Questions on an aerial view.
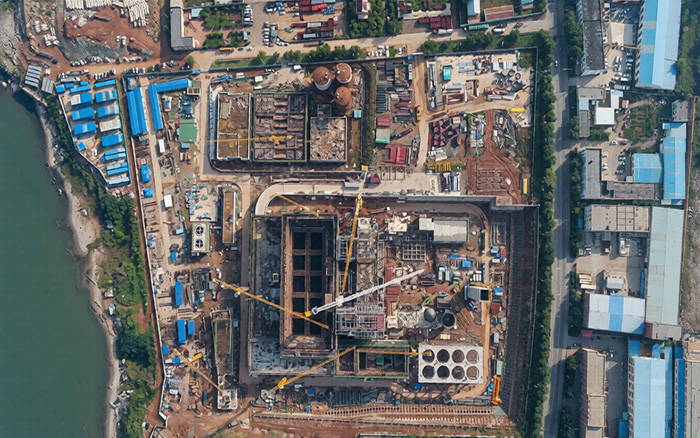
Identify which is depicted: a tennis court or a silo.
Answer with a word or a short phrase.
silo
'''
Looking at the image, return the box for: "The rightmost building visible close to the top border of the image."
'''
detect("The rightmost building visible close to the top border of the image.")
[630,0,678,92]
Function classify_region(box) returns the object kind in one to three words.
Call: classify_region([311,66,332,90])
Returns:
silo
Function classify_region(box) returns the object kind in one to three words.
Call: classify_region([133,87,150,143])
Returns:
building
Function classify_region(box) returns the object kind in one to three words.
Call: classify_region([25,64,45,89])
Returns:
greenhouse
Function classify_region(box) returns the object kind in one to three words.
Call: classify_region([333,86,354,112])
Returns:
silo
